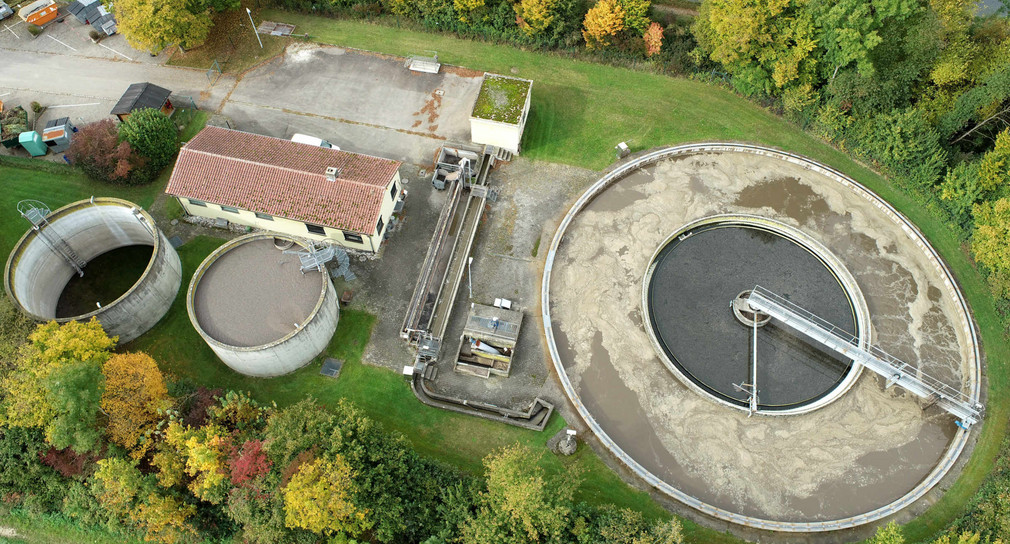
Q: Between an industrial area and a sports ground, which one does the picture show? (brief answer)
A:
industrial area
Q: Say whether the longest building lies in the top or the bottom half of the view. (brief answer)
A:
top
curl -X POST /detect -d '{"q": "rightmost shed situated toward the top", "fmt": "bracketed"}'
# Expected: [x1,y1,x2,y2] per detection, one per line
[469,72,534,153]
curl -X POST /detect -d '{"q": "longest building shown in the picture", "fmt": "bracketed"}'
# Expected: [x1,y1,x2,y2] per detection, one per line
[165,124,401,253]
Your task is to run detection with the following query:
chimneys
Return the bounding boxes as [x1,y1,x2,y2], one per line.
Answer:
[321,168,339,183]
